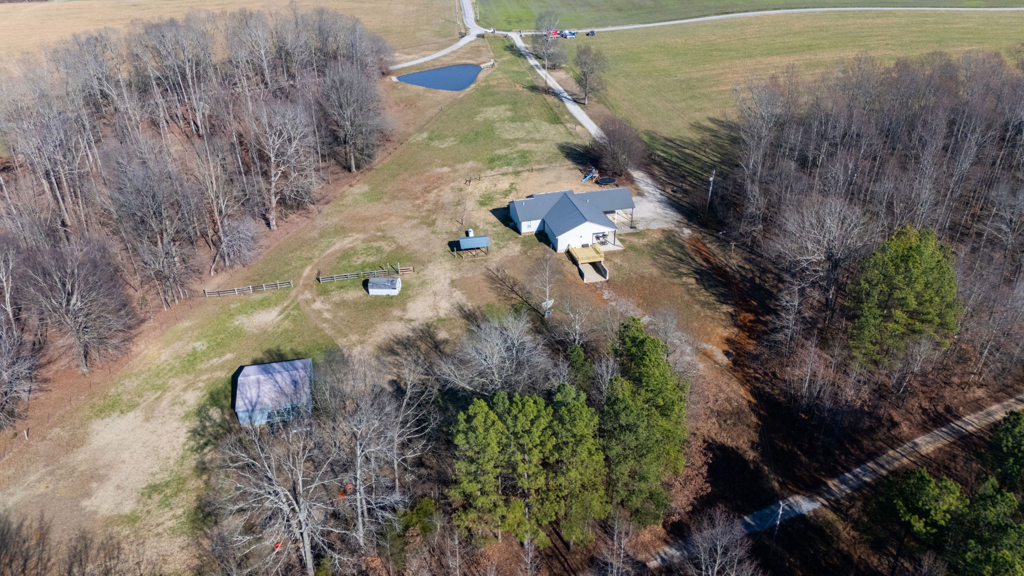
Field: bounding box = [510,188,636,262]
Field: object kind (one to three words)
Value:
house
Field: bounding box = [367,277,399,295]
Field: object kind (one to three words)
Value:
shed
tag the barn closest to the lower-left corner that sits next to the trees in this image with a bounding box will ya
[235,358,316,431]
